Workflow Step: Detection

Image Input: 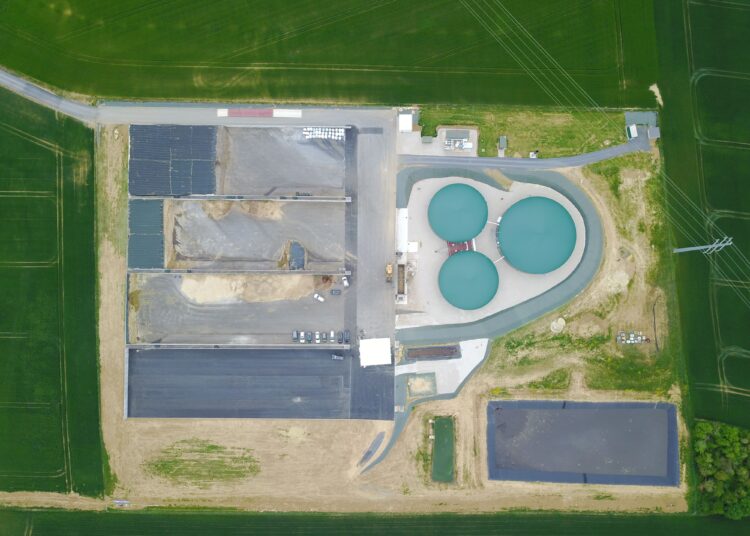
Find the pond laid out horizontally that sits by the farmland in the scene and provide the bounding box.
[486,400,681,487]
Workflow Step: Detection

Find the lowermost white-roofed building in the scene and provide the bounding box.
[358,337,392,368]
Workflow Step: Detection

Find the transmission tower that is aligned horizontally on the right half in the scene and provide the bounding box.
[671,237,735,254]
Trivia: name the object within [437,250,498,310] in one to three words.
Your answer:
storage tank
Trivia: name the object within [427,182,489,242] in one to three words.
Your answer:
storage tank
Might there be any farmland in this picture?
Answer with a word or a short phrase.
Yes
